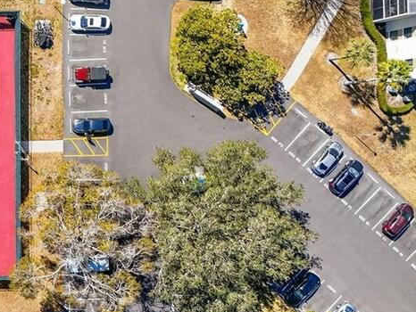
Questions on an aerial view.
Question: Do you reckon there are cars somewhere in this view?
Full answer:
Yes, looking at the shot, I can spot a car.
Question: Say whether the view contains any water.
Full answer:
No, the scene doesn't show any water.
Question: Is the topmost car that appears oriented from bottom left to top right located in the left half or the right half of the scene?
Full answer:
The topmost car that appears oriented from bottom left to top right sits on the right side.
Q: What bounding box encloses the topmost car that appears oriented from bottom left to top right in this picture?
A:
[309,142,344,176]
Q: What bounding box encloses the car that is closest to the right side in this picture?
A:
[379,204,415,238]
